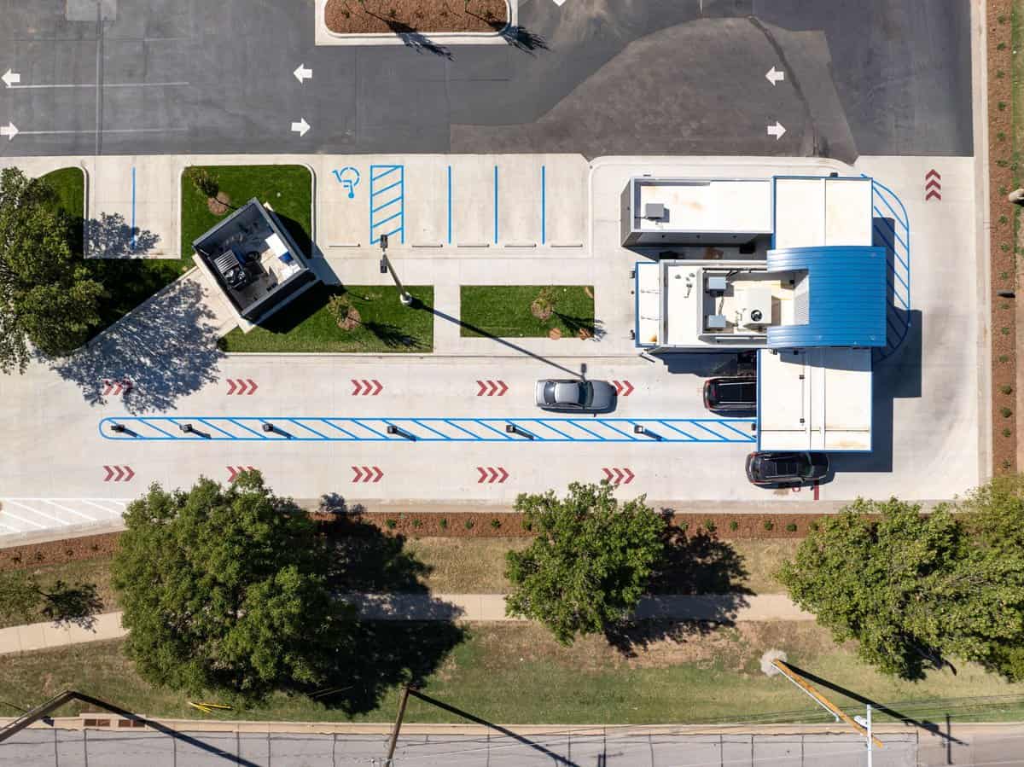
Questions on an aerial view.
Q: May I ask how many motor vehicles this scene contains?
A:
3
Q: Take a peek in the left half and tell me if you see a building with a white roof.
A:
No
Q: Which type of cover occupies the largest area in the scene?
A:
paved ground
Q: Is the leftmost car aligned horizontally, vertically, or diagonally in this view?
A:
horizontally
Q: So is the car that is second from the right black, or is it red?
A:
black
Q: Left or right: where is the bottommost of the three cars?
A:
right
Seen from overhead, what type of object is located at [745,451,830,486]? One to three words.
car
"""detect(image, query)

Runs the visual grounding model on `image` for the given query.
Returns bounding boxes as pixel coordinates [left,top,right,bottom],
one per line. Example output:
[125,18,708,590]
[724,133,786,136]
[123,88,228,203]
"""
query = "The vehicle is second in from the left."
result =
[704,376,755,407]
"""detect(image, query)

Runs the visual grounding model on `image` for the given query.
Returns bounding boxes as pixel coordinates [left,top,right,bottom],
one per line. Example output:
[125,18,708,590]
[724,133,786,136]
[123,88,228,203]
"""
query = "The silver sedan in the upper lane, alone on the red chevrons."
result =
[533,375,613,411]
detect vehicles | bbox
[704,376,755,407]
[533,375,613,411]
[745,451,830,486]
